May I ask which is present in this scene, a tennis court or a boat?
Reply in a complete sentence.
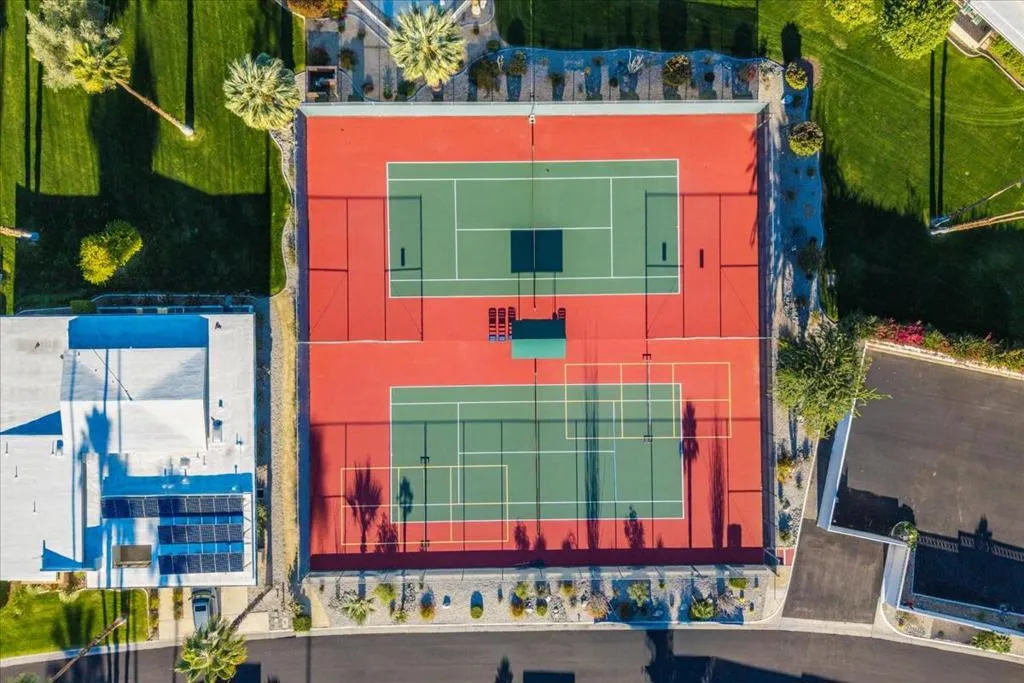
I can see a tennis court in this picture.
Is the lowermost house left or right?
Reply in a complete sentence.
The lowermost house appears in the left half of the scene.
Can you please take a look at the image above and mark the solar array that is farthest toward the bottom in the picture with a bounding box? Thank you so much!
[156,553,244,574]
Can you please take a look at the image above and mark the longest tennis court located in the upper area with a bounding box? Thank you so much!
[307,113,761,342]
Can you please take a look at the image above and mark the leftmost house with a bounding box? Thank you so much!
[0,313,259,586]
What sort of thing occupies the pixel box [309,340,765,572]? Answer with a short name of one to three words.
tennis court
